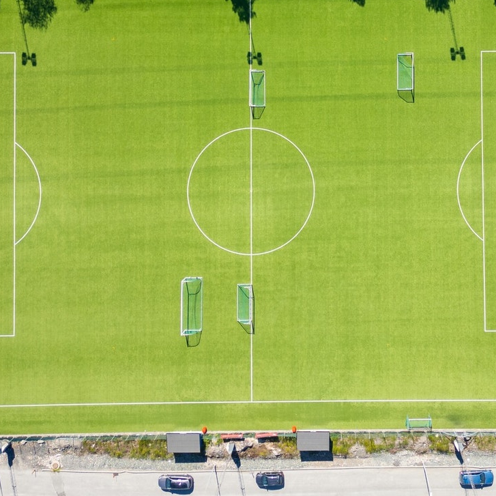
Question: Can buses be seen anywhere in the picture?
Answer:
No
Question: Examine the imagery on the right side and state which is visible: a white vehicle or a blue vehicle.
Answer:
blue vehicle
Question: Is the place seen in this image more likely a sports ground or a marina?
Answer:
sports ground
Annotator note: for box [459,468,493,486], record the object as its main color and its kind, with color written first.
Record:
blue car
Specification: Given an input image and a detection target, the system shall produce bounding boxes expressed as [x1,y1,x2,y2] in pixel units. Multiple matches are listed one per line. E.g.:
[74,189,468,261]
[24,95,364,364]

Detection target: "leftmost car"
[159,473,194,490]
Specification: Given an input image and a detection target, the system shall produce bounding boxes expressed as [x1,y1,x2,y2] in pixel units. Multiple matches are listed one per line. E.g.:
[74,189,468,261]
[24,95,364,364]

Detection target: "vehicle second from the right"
[256,471,286,487]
